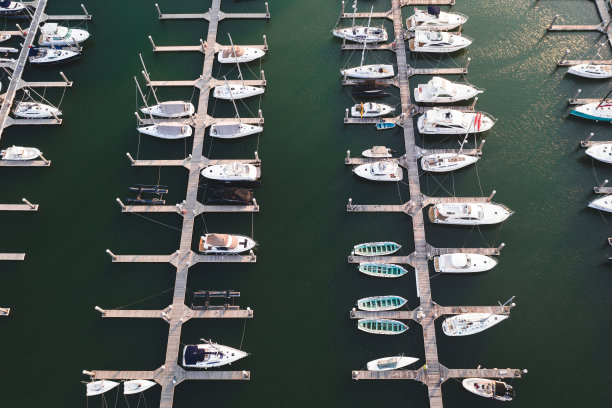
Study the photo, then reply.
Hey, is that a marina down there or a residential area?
marina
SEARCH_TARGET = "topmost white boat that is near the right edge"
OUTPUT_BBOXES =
[568,38,612,80]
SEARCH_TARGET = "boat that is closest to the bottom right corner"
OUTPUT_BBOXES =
[463,378,513,401]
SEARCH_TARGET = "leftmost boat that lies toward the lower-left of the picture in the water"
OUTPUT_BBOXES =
[84,381,119,395]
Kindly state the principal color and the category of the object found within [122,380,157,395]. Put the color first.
white boat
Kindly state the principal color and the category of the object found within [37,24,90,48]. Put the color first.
white boat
